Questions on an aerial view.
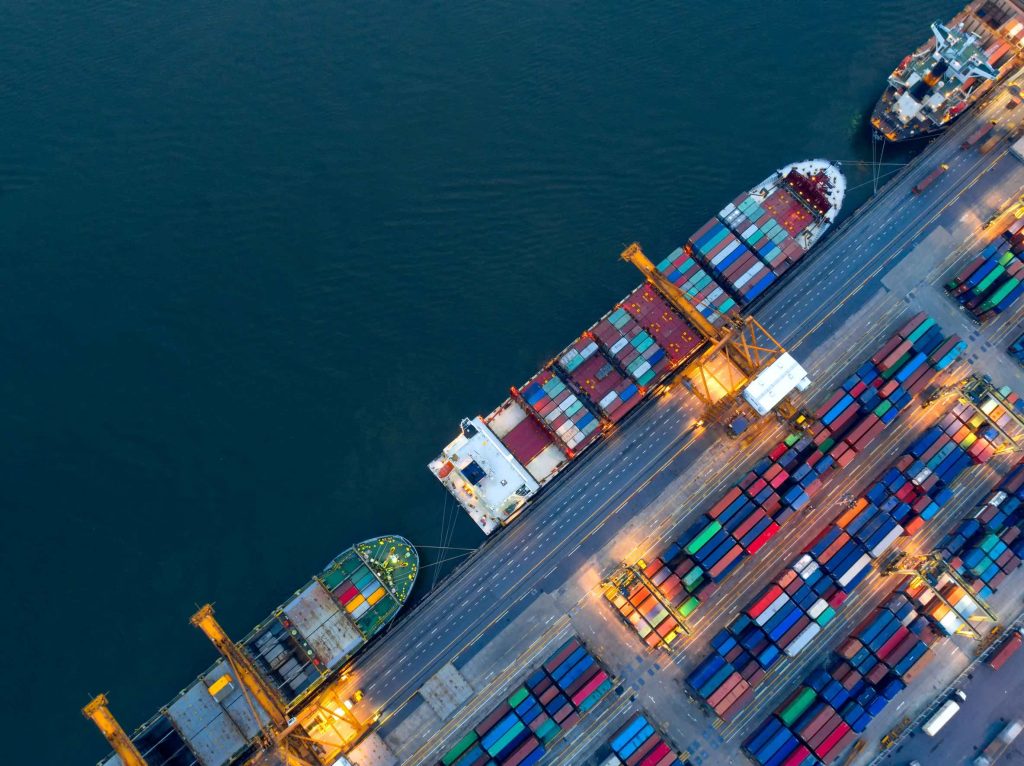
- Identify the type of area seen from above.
port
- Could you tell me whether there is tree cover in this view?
No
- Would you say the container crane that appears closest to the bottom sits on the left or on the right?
left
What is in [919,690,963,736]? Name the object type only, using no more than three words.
truck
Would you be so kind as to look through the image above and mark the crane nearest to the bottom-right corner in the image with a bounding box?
[883,551,1008,646]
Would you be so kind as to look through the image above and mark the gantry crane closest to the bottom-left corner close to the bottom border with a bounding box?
[74,688,150,766]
